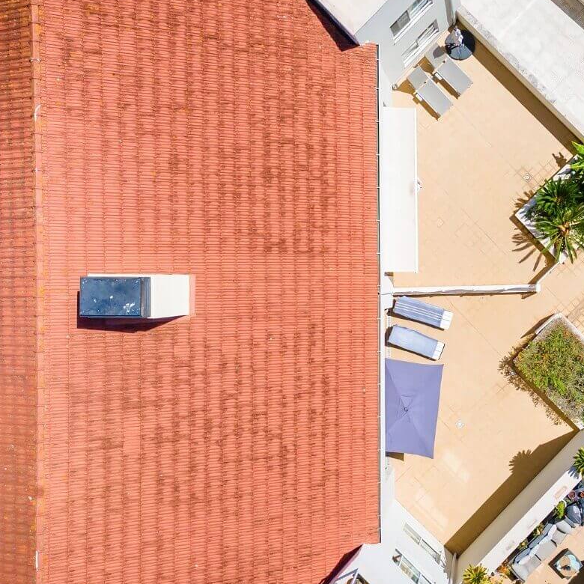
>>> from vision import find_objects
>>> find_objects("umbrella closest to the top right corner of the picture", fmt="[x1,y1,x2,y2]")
[444,20,475,59]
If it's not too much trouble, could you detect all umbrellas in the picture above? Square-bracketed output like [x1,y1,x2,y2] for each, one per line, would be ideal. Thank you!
[385,358,444,458]
[444,20,475,59]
